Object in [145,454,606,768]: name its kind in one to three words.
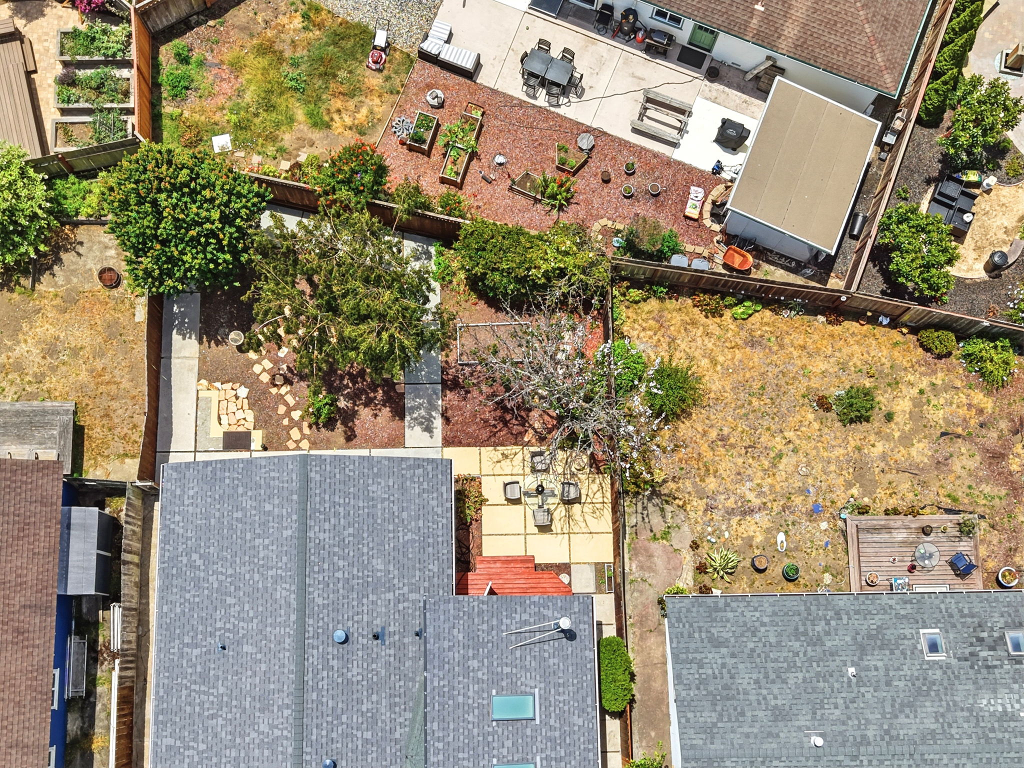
house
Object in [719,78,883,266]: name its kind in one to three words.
shed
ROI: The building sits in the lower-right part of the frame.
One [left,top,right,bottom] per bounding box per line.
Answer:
[664,587,1024,768]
